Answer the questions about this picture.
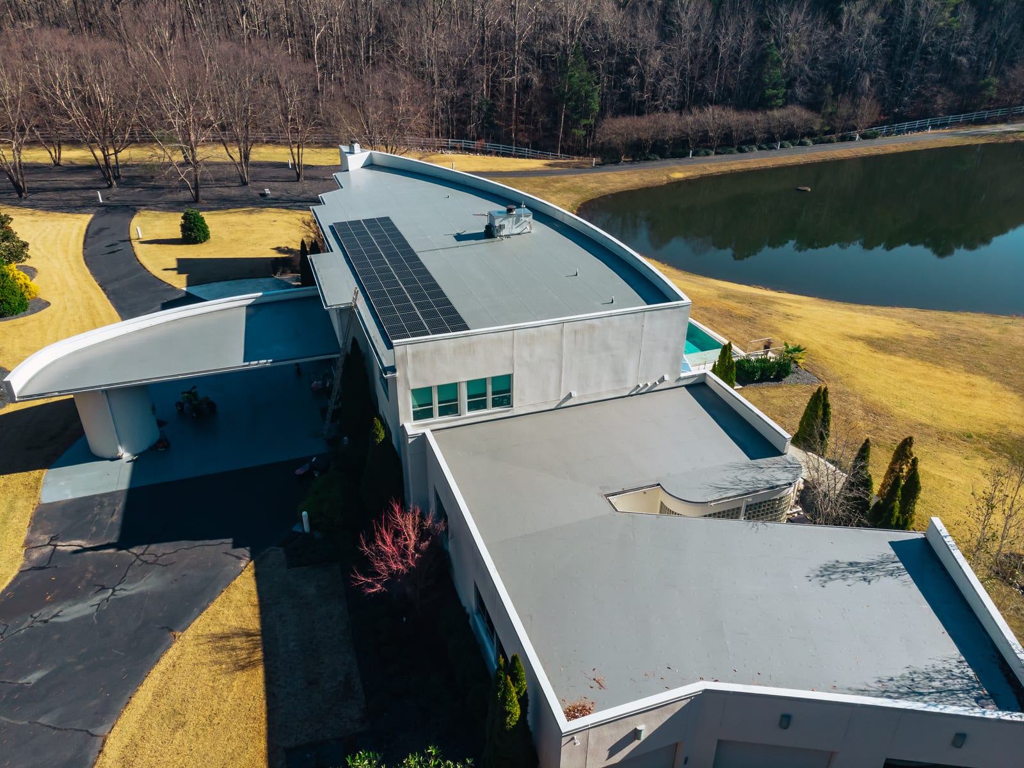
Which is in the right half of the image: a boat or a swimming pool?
swimming pool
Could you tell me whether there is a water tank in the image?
No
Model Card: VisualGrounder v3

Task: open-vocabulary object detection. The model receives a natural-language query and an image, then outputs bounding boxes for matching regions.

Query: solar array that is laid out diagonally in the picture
[333,216,469,343]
